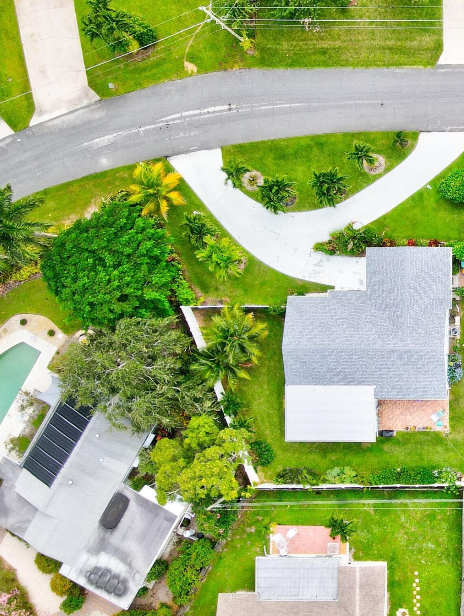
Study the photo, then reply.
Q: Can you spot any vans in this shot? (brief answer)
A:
No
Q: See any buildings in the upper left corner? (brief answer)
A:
No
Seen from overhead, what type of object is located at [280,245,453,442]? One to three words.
house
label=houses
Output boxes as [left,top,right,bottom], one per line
[280,245,453,442]
[215,556,389,616]
[0,379,185,611]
